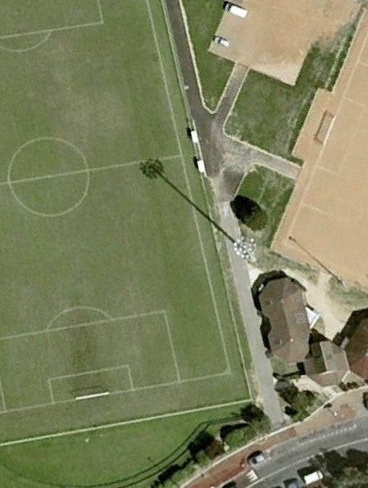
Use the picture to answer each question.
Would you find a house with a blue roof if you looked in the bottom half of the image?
No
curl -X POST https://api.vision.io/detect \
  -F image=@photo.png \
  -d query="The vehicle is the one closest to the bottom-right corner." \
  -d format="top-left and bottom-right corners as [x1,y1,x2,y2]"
[304,471,322,485]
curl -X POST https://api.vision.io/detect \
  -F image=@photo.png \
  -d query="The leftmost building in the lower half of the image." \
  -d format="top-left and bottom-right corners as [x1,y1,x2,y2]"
[260,277,311,364]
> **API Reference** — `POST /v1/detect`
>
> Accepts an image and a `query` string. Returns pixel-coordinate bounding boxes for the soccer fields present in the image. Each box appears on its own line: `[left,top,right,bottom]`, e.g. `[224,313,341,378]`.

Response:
[0,0,250,446]
[270,8,368,290]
